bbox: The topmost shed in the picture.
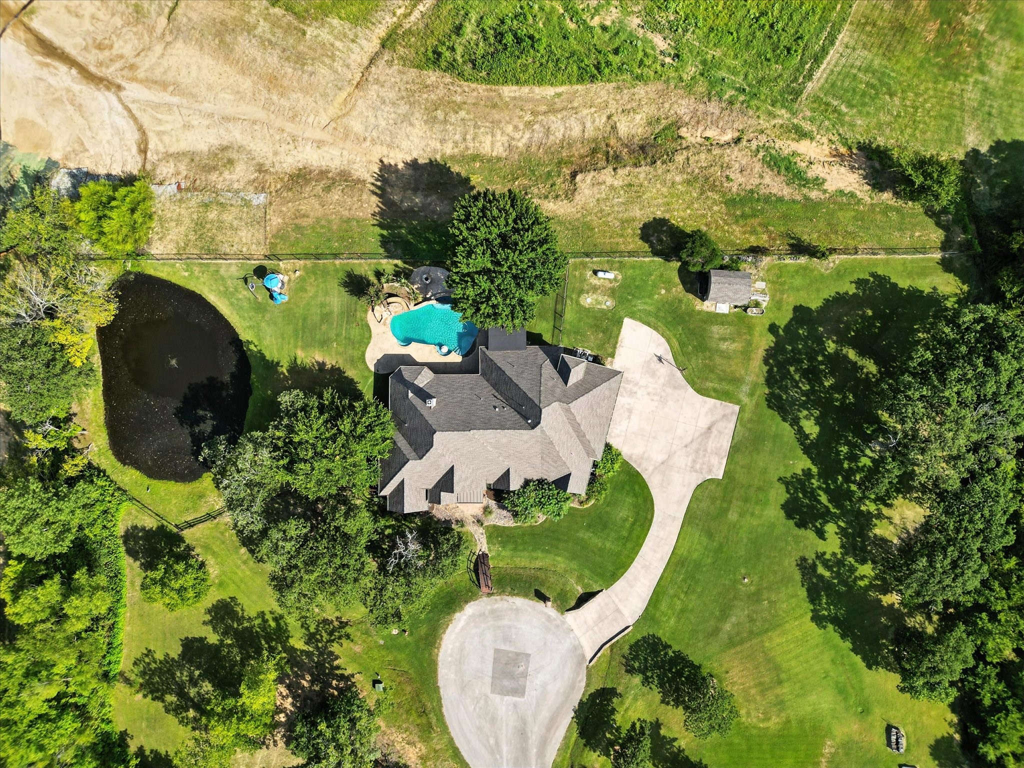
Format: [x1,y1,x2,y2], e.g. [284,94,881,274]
[705,270,752,306]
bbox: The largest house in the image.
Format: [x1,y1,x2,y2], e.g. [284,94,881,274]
[378,327,624,513]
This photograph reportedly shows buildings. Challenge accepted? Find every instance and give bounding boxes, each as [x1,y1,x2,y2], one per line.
[705,270,752,306]
[378,327,624,513]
